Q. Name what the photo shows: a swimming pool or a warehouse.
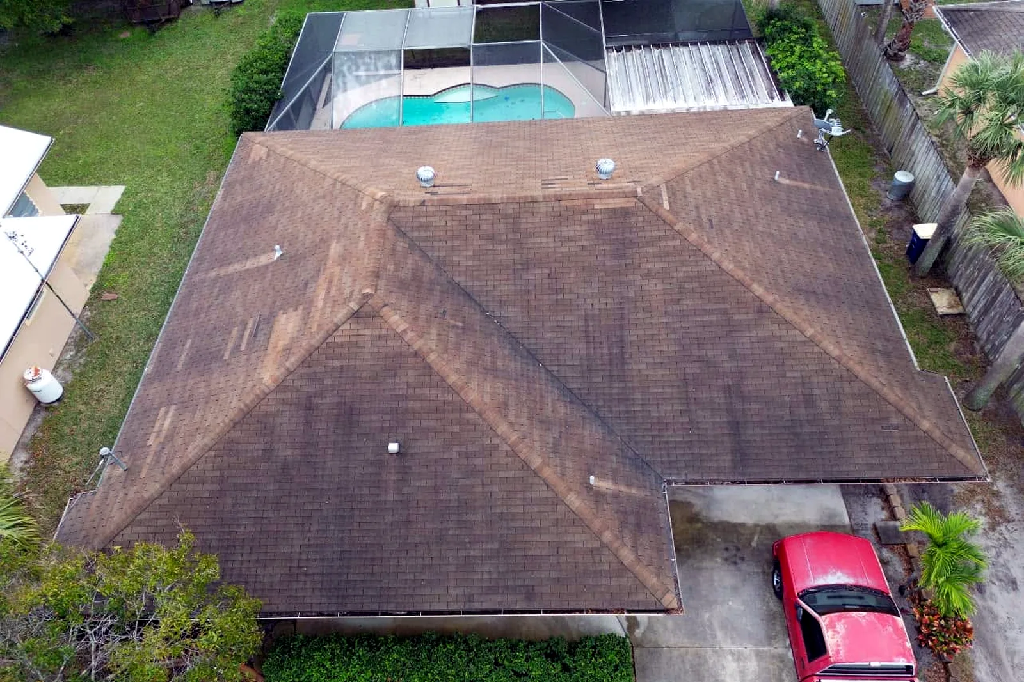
swimming pool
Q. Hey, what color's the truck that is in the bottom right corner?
red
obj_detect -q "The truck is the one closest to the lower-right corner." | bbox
[767,534,915,682]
